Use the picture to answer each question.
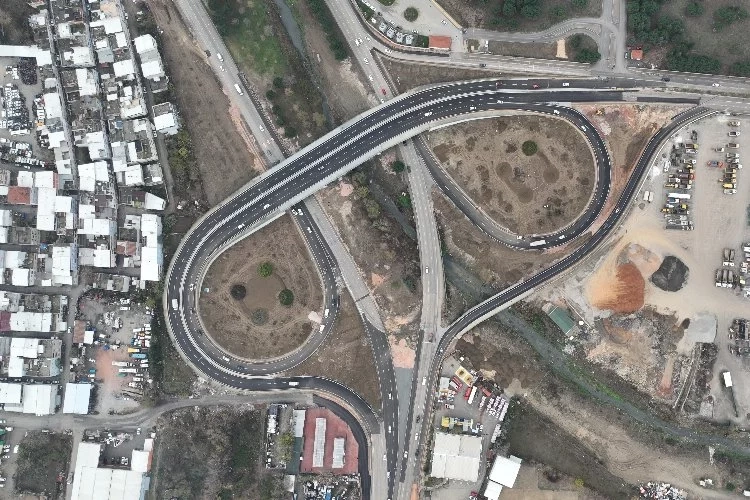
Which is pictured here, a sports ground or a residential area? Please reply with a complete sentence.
What you see here is a residential area.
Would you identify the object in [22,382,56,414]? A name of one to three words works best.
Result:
building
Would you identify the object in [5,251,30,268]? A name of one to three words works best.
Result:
house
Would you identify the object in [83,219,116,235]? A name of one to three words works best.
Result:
house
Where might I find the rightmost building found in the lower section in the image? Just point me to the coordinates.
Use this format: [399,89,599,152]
[547,306,576,334]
